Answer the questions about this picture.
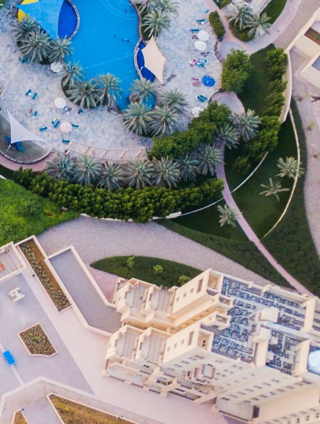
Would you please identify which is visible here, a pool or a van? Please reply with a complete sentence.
Of the two, only a pool appears.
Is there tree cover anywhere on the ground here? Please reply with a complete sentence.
Yes, there is tree cover in the image.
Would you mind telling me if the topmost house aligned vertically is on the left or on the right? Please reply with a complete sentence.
The topmost house aligned vertically sits on the right side.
